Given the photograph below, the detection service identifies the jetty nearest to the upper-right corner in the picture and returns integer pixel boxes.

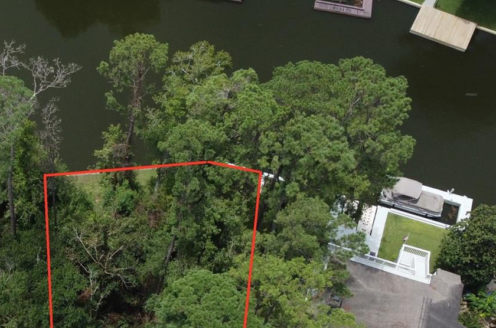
[409,4,477,57]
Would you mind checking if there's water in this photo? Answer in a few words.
Yes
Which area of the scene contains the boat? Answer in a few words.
right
